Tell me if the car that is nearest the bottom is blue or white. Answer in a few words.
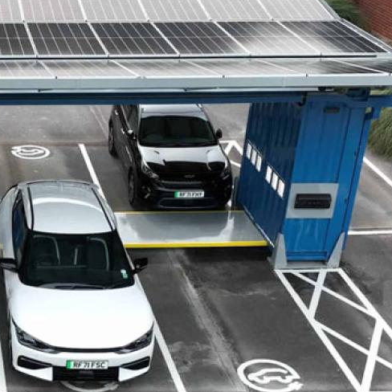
white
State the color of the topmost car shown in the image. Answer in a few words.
black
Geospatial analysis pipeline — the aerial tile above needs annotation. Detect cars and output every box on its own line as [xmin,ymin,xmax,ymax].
[115,103,240,208]
[0,180,156,384]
